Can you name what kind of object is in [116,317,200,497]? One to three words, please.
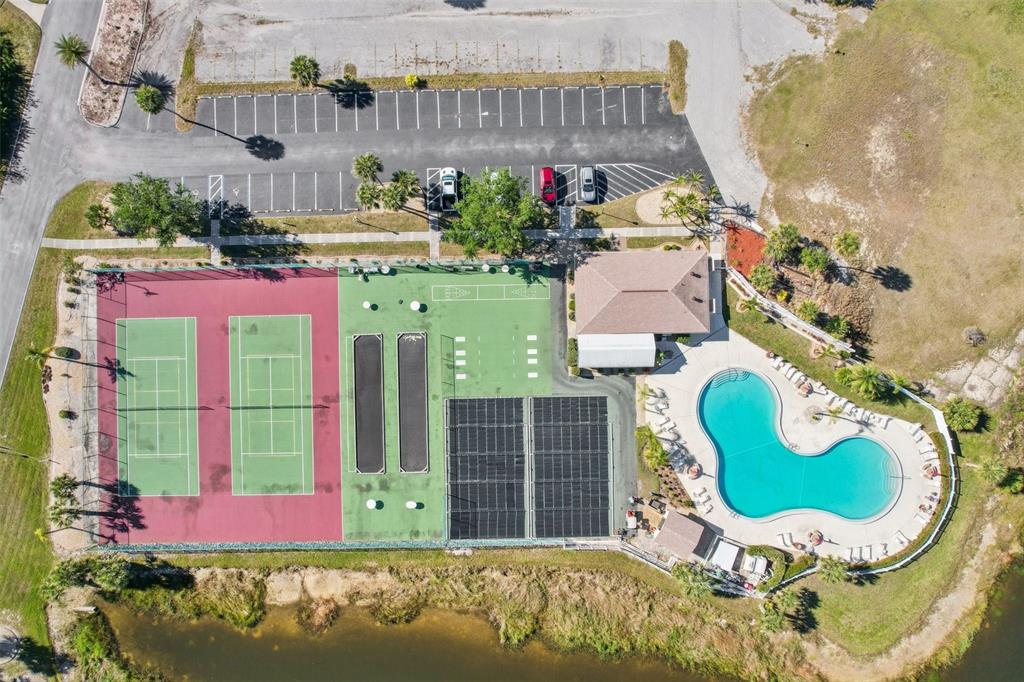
tennis court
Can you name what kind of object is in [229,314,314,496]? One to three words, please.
tennis court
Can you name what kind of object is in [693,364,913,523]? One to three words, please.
swimming pool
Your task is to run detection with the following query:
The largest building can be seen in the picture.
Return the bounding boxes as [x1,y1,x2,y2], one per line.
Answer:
[574,249,710,335]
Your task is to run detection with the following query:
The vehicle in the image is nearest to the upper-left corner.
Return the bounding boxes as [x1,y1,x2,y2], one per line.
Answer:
[440,167,458,211]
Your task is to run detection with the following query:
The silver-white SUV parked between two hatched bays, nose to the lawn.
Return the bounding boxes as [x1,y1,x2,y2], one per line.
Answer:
[580,165,597,201]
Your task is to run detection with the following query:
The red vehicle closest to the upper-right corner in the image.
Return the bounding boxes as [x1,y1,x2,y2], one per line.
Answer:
[540,166,557,202]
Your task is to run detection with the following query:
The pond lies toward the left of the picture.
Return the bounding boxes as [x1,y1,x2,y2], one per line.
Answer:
[132,619,676,682]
